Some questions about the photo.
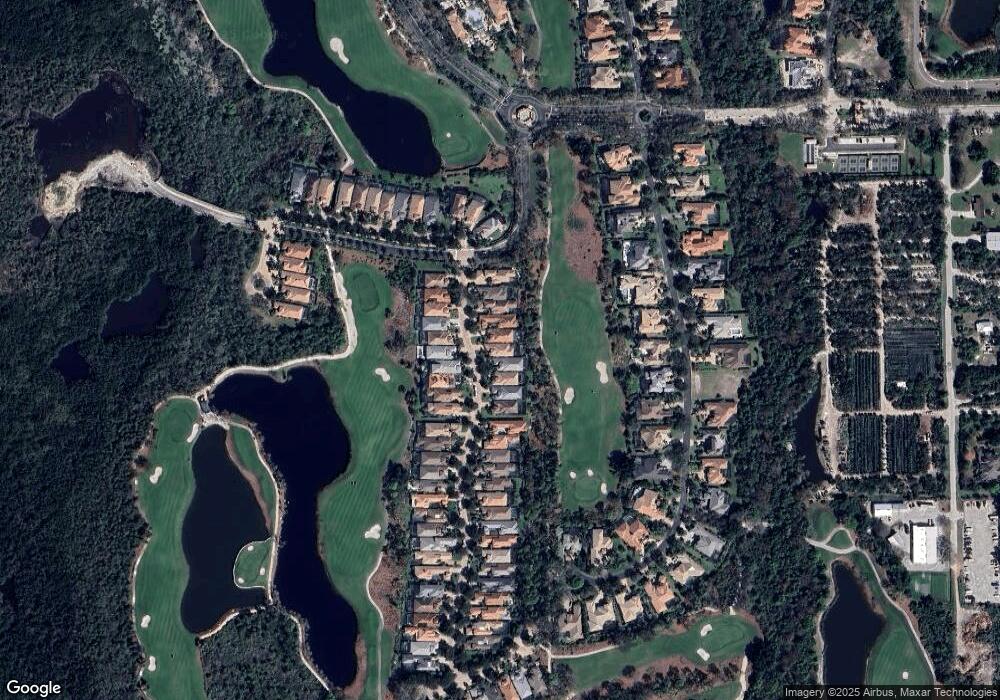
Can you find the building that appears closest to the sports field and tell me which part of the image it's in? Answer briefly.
bottom right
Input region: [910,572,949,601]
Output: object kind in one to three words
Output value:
sports field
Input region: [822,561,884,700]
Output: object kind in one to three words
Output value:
pond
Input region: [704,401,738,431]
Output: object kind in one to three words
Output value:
house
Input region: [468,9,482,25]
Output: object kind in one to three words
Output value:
swimming pool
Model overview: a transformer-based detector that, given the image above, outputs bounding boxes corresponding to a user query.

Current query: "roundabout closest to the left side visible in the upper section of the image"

[504,94,546,136]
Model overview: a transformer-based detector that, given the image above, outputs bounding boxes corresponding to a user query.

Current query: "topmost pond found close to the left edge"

[31,73,147,176]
